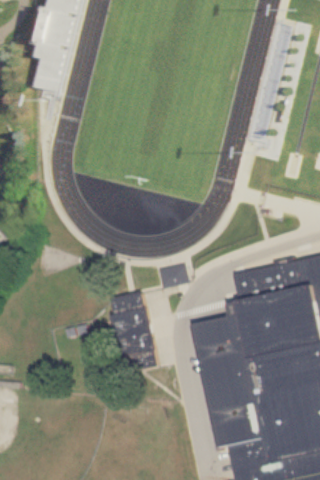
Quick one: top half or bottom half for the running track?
top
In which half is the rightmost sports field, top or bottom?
top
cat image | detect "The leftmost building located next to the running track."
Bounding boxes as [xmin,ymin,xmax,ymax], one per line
[110,290,158,368]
